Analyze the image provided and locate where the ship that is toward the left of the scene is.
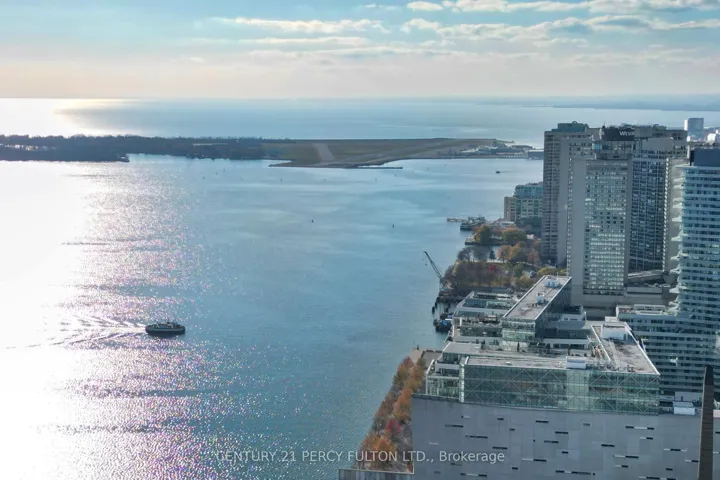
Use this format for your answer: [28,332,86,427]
[145,320,186,334]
